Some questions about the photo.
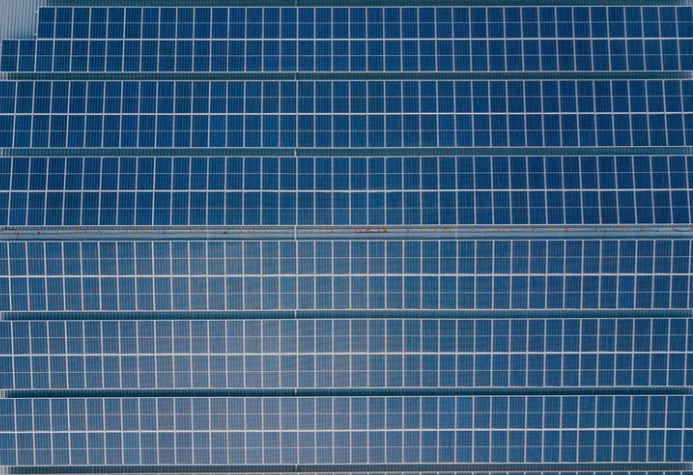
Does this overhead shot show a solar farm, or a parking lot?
solar farm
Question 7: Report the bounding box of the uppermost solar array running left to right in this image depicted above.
[0,7,693,72]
